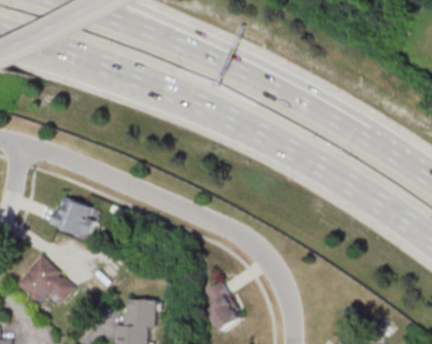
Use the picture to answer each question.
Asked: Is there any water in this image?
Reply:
No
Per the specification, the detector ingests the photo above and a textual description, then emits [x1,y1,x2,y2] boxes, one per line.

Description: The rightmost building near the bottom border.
[204,282,244,328]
